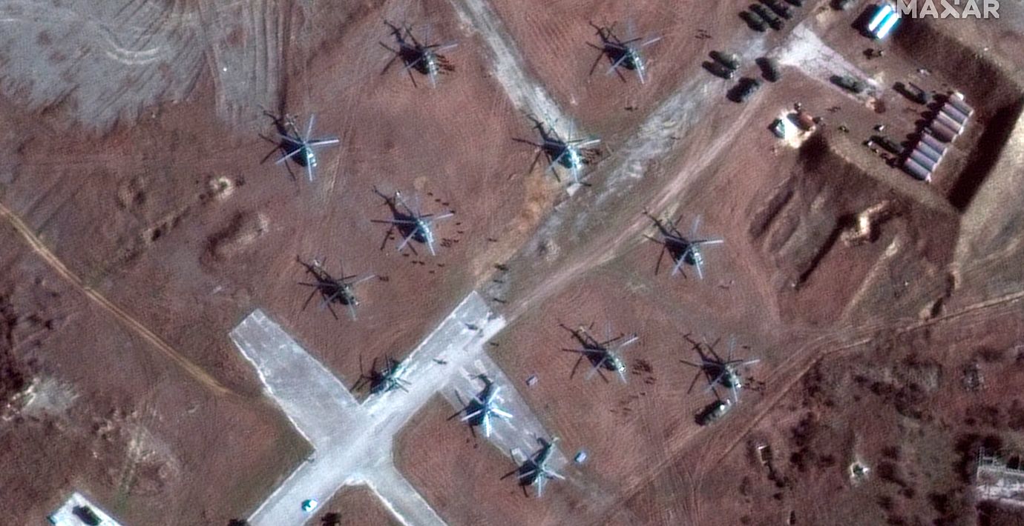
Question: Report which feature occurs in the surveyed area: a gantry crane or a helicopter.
helicopter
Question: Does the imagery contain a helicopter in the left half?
Yes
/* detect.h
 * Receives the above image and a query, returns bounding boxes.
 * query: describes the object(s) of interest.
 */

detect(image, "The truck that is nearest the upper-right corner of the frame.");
[900,79,928,101]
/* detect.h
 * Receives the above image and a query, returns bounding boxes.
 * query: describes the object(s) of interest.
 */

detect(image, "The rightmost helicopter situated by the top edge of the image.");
[599,19,663,79]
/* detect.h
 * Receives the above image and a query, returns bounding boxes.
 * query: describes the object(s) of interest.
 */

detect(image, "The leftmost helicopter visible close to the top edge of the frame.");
[394,21,458,83]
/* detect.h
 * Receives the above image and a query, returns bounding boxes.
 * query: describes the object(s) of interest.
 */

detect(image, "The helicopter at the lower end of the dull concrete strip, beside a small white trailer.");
[508,435,573,505]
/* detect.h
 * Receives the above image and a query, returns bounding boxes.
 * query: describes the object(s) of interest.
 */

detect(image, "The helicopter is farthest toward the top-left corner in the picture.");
[276,109,338,176]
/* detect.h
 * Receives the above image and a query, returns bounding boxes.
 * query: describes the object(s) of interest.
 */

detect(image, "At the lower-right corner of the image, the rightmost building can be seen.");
[976,447,1024,508]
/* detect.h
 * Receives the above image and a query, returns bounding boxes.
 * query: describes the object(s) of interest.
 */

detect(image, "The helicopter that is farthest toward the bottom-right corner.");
[695,334,759,397]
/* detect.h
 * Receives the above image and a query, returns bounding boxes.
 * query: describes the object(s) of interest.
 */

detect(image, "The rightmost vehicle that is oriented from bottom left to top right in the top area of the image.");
[735,78,761,98]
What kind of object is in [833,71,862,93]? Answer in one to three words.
truck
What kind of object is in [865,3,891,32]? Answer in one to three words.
tent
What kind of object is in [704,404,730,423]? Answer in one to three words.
vehicle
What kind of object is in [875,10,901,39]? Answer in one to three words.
tent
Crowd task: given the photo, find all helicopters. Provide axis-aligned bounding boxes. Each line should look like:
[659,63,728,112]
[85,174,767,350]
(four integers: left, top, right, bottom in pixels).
[394,21,458,83]
[508,435,573,505]
[386,191,451,251]
[276,109,338,176]
[456,371,521,442]
[659,213,723,275]
[359,351,421,414]
[538,117,602,178]
[575,319,640,381]
[695,334,759,397]
[599,19,663,79]
[309,255,374,315]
